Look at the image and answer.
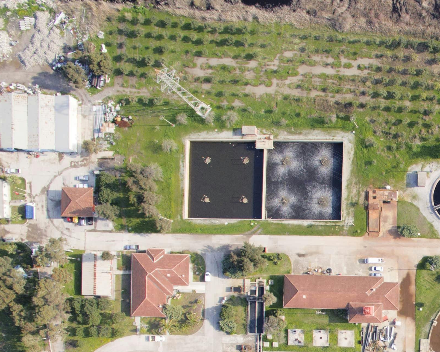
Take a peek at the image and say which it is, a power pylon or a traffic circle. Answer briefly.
power pylon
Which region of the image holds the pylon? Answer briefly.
top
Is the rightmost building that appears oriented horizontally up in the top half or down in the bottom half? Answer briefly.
bottom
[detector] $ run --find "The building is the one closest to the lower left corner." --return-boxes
[81,252,117,300]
